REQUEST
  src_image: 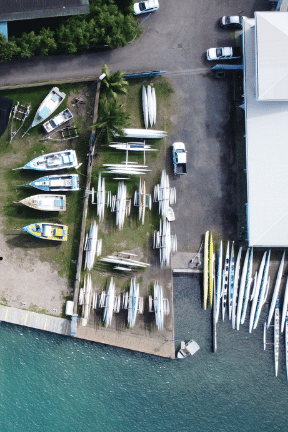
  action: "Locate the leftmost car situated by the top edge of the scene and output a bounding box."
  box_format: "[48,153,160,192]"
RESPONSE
[132,0,160,15]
